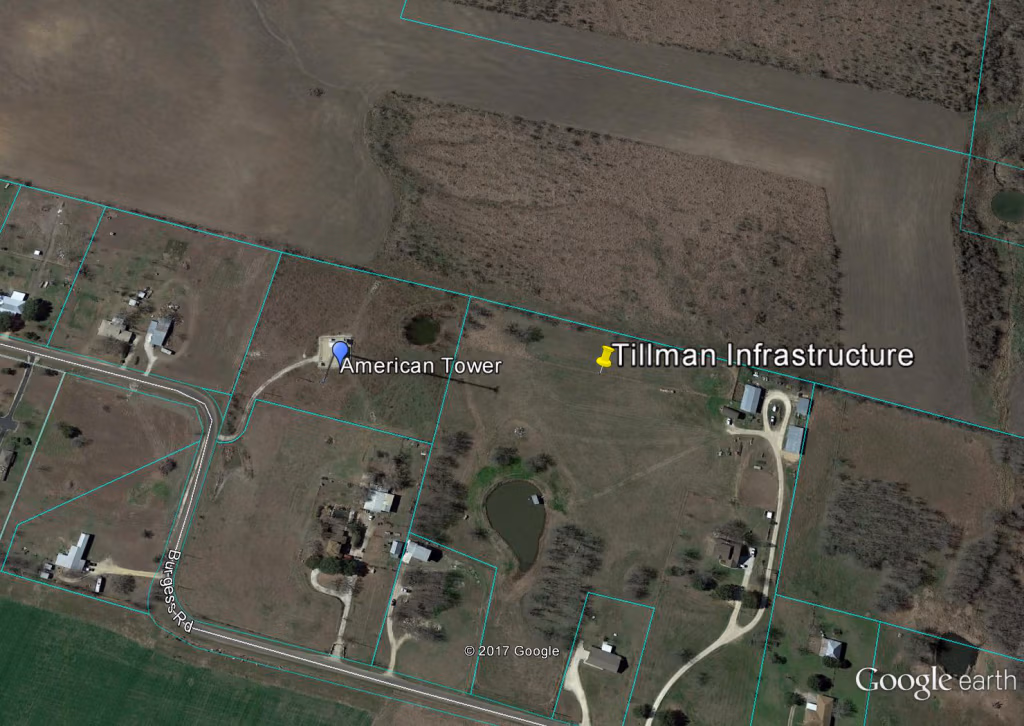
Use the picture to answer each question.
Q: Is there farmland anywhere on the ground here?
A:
Yes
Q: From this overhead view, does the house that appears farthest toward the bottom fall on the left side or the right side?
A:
right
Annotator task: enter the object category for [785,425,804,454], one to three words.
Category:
barn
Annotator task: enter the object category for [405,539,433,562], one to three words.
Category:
house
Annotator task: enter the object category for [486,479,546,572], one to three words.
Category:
pond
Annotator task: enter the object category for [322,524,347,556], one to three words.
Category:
house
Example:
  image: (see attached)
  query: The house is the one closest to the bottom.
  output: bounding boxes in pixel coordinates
[802,694,833,726]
